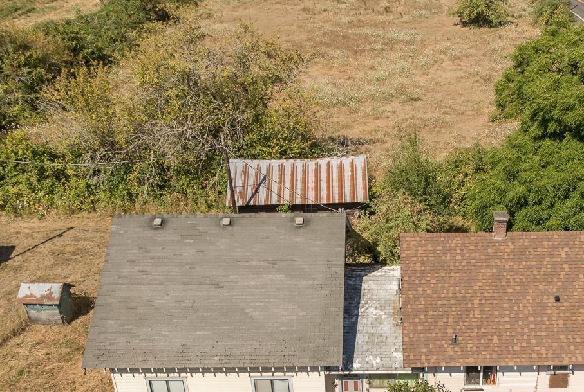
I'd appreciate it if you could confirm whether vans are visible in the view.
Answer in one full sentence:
No, there is no van in the image.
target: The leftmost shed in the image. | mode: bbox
[15,281,74,323]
